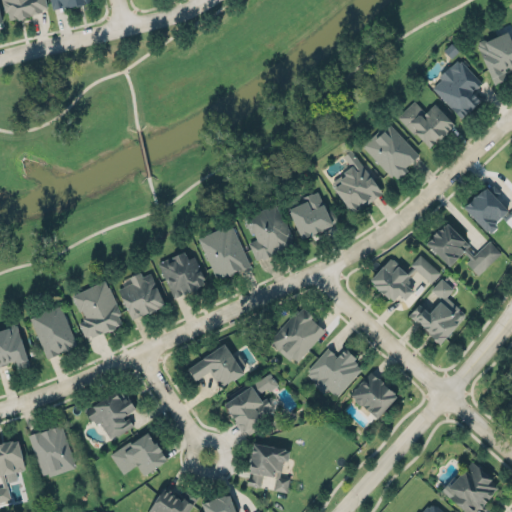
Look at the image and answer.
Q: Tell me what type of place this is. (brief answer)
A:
residential area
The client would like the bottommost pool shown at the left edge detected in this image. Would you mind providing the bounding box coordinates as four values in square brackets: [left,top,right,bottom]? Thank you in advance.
[9,480,28,505]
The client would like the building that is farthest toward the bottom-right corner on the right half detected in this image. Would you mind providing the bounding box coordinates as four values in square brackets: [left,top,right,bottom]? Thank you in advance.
[444,462,498,512]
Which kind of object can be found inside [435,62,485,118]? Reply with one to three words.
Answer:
house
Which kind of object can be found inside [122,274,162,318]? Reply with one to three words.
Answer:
house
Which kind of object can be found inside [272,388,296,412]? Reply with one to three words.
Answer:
swimming pool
